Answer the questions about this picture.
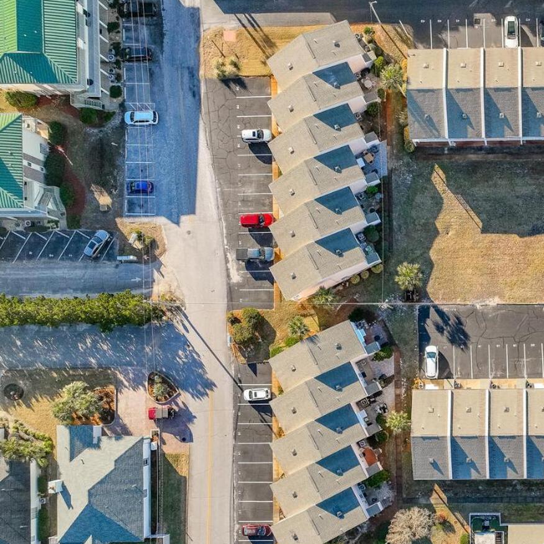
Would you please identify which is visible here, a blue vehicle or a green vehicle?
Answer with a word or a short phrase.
blue vehicle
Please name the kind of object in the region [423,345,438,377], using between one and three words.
car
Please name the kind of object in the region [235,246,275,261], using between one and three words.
vehicle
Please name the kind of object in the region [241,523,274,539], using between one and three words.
car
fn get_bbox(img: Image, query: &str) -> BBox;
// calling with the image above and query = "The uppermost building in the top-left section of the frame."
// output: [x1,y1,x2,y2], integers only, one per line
[0,0,109,109]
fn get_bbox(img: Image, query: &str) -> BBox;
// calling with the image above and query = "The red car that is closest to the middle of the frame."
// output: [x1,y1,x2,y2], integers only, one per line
[239,212,276,228]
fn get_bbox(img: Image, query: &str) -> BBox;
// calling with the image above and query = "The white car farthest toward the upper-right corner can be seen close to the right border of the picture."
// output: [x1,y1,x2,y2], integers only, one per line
[503,16,519,48]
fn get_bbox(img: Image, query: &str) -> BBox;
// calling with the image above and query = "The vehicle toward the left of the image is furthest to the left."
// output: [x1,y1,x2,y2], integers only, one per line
[83,228,112,260]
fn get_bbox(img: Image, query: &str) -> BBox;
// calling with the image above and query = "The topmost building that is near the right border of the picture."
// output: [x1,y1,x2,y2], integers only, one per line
[405,46,544,152]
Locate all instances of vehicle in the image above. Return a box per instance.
[538,16,544,48]
[124,109,160,125]
[120,45,154,62]
[241,523,274,539]
[83,228,112,260]
[240,127,274,143]
[503,16,519,48]
[153,408,172,418]
[239,212,276,228]
[244,386,271,402]
[423,345,438,377]
[125,179,155,195]
[235,246,275,261]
